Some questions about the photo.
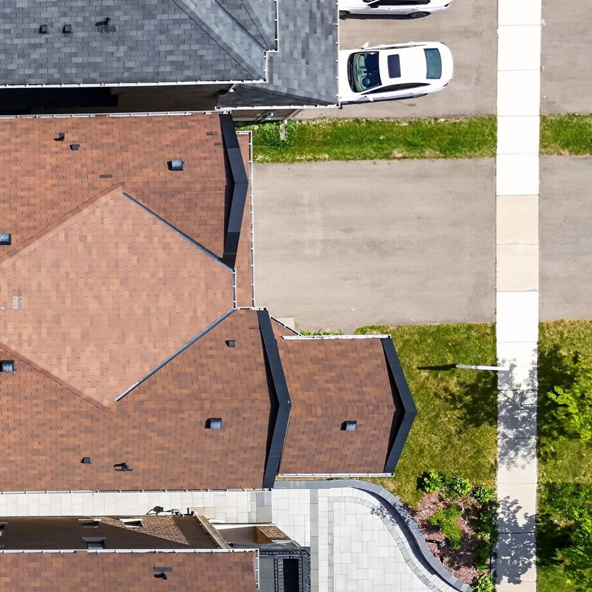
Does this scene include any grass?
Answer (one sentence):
Yes, the picture does contain grass.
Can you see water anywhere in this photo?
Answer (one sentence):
No, water can't be seen anywhere here.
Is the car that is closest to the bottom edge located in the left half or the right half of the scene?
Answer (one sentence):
The car that is closest to the bottom edge is on the right side of the image.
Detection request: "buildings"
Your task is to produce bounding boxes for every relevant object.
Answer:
[0,509,312,592]
[0,109,414,497]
